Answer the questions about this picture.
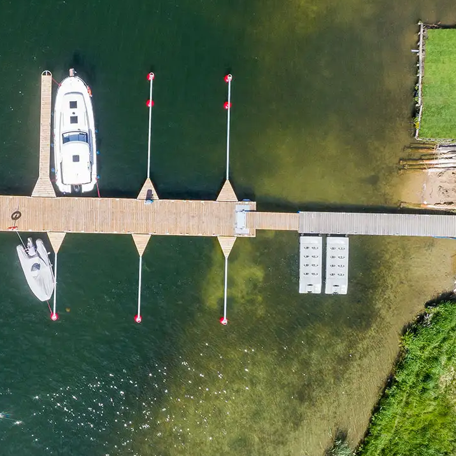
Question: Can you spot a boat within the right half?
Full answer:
No, no boat appears within the right half.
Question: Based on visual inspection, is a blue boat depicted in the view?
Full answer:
No, the picture doesn't show any blue boat.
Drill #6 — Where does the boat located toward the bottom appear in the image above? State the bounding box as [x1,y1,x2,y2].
[17,233,54,315]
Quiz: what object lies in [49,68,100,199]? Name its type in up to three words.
boat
